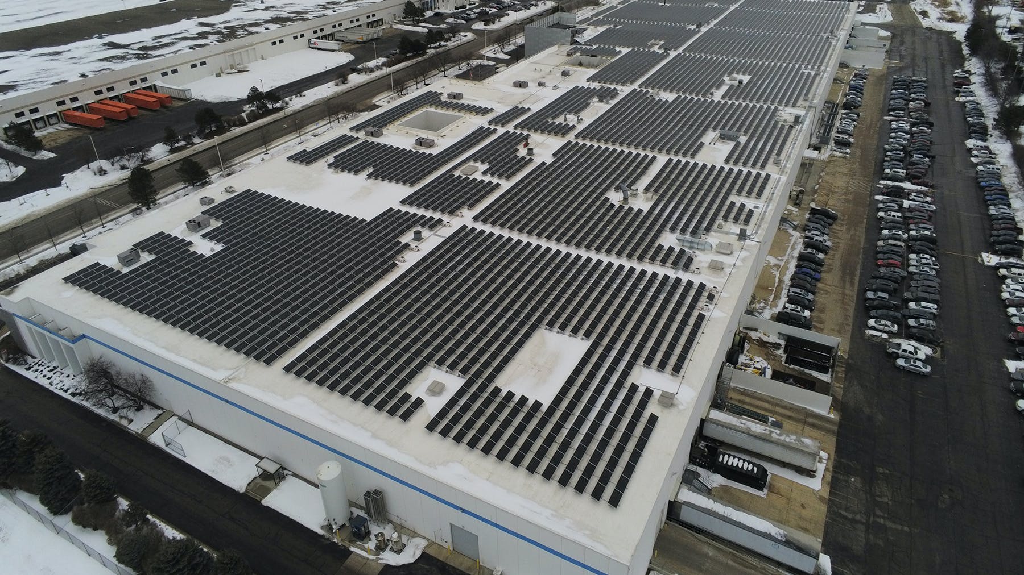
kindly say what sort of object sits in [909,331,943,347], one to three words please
car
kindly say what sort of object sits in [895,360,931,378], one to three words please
car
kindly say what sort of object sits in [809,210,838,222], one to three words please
vehicle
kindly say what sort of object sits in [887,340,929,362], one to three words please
truck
